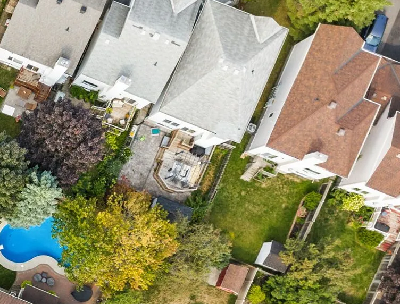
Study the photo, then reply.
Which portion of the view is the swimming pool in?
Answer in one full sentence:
You can find the swimming pool in the bottom left area of the picture.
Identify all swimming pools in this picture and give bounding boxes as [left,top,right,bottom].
[0,216,74,265]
